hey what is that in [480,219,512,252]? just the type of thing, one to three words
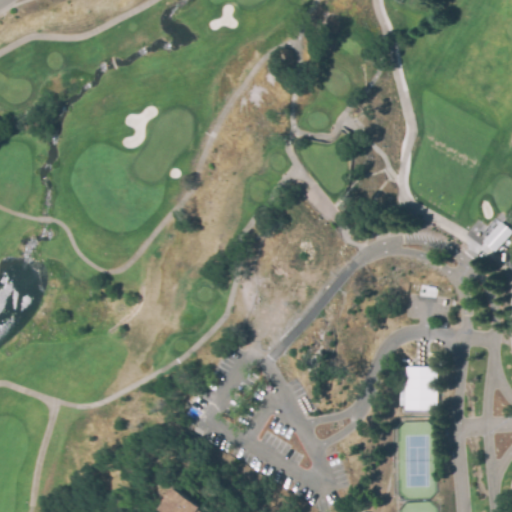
building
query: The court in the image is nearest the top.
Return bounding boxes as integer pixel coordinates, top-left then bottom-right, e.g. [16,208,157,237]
[400,422,438,499]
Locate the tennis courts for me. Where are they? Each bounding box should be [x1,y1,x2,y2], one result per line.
[400,422,438,499]
[400,502,438,512]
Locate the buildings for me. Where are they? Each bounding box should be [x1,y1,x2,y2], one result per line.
[154,488,198,512]
[400,366,438,412]
[480,219,512,252]
[421,284,439,299]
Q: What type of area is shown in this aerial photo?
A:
golf course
